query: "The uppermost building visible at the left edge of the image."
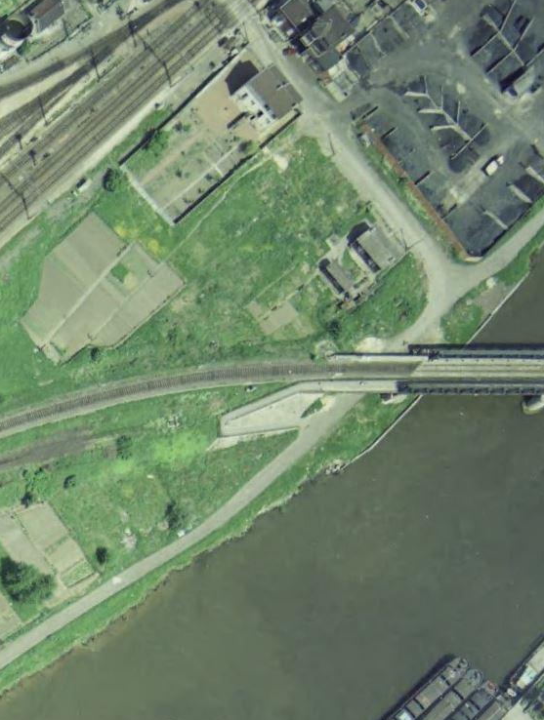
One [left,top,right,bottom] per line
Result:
[23,0,68,37]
